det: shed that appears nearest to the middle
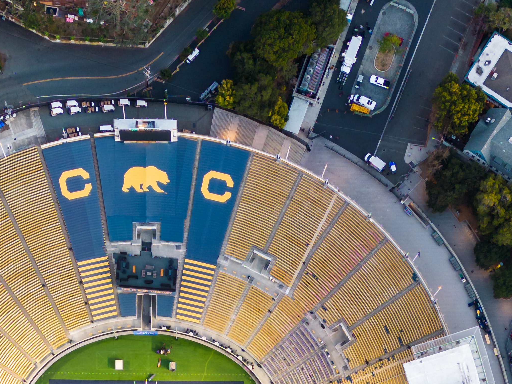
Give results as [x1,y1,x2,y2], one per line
[284,96,309,141]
